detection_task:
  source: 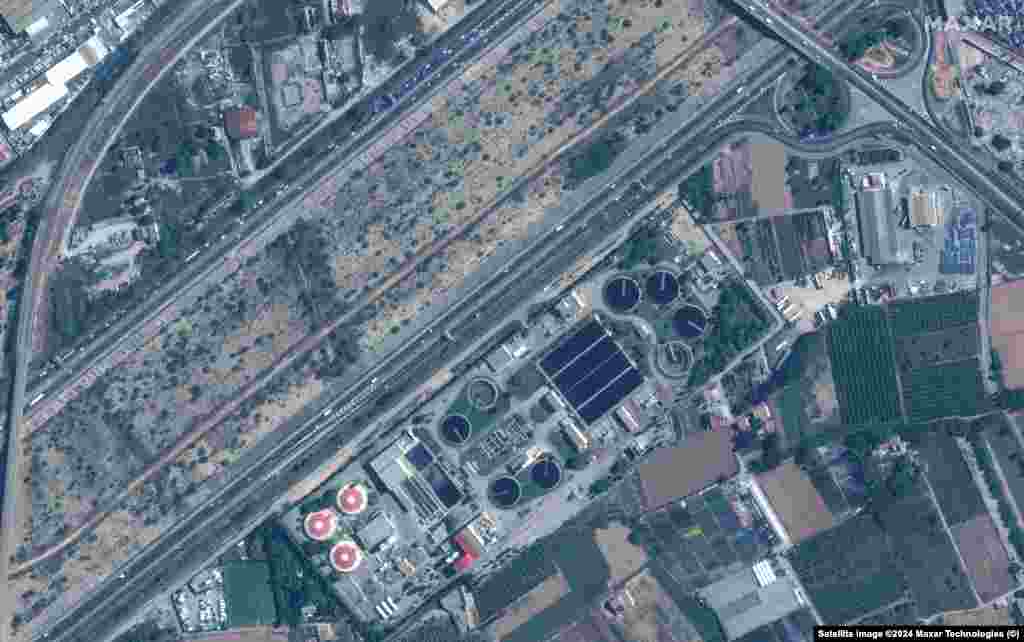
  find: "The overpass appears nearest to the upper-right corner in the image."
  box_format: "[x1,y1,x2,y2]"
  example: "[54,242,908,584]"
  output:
[731,0,1024,227]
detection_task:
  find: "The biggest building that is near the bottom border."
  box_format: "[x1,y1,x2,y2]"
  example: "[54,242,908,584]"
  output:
[703,559,802,641]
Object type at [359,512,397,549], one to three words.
house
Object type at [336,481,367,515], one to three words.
storage tank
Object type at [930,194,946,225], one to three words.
building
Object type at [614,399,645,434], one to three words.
building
